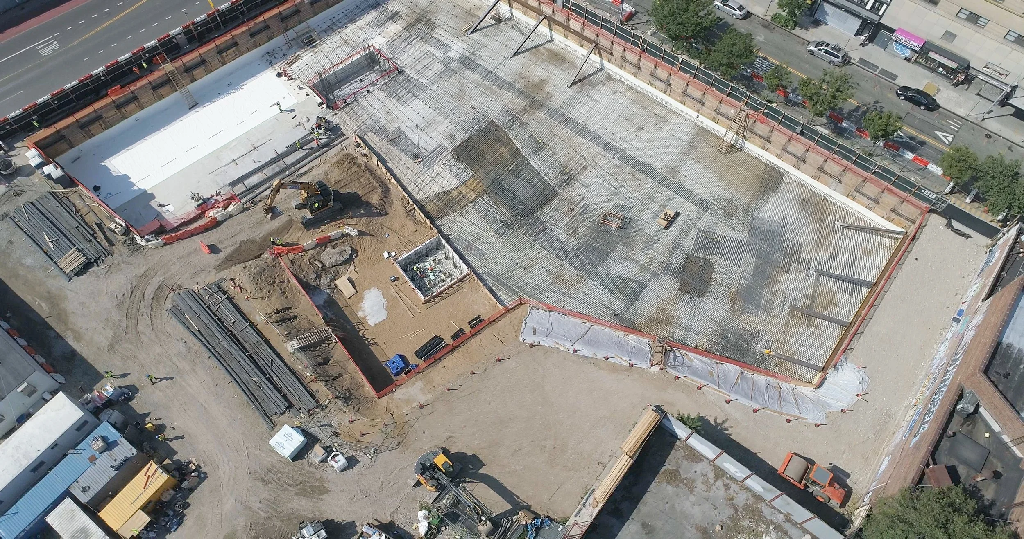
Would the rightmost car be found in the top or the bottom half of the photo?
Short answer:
top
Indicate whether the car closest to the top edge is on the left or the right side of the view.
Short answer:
right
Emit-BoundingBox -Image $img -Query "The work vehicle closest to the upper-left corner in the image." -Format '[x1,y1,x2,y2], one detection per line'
[263,172,343,223]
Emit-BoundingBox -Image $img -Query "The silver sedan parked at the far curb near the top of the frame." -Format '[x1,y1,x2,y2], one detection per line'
[714,2,751,23]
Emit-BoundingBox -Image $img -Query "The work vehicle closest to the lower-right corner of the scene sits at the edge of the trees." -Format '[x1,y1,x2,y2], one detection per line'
[784,458,851,511]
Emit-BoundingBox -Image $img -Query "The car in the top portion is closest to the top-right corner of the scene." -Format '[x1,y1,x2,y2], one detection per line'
[899,90,940,116]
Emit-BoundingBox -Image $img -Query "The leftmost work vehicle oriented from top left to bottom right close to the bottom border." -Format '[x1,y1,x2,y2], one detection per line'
[409,444,500,538]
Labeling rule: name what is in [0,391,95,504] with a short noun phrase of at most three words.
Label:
trailer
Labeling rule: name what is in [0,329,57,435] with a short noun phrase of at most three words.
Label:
building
